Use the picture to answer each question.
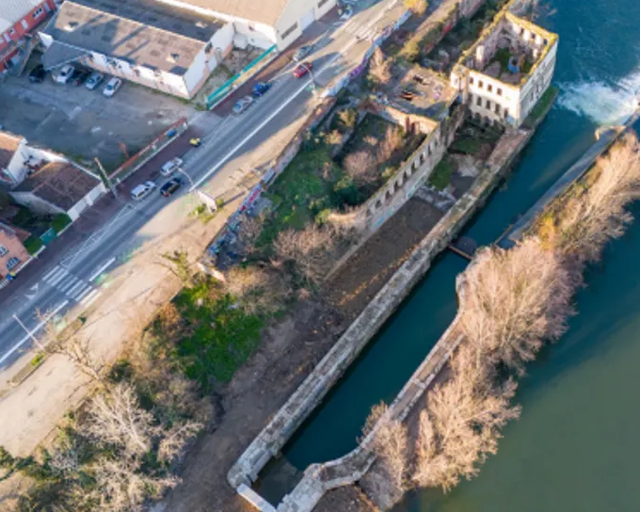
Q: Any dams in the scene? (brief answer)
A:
Yes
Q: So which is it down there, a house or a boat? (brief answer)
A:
house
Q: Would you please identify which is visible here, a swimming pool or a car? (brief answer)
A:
car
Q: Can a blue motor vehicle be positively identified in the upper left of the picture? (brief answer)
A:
Yes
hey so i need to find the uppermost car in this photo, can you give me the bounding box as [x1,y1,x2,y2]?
[341,9,359,23]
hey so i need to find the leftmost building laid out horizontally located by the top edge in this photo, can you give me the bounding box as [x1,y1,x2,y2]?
[39,0,221,96]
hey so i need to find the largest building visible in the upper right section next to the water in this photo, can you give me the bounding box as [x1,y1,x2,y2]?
[448,12,559,129]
